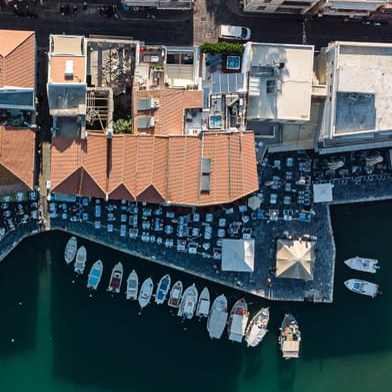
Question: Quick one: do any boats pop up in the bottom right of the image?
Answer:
Yes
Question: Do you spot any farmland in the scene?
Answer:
No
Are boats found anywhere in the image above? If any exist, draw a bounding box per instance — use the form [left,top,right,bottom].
[64,235,77,264]
[179,280,200,321]
[228,294,252,341]
[344,279,381,298]
[169,281,182,308]
[280,314,301,358]
[109,252,128,294]
[75,242,90,275]
[155,273,171,307]
[197,282,217,319]
[344,255,382,273]
[126,259,143,302]
[208,289,231,339]
[247,301,275,348]
[138,274,154,308]
[86,258,101,292]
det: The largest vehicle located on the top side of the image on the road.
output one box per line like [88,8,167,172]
[219,24,250,40]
